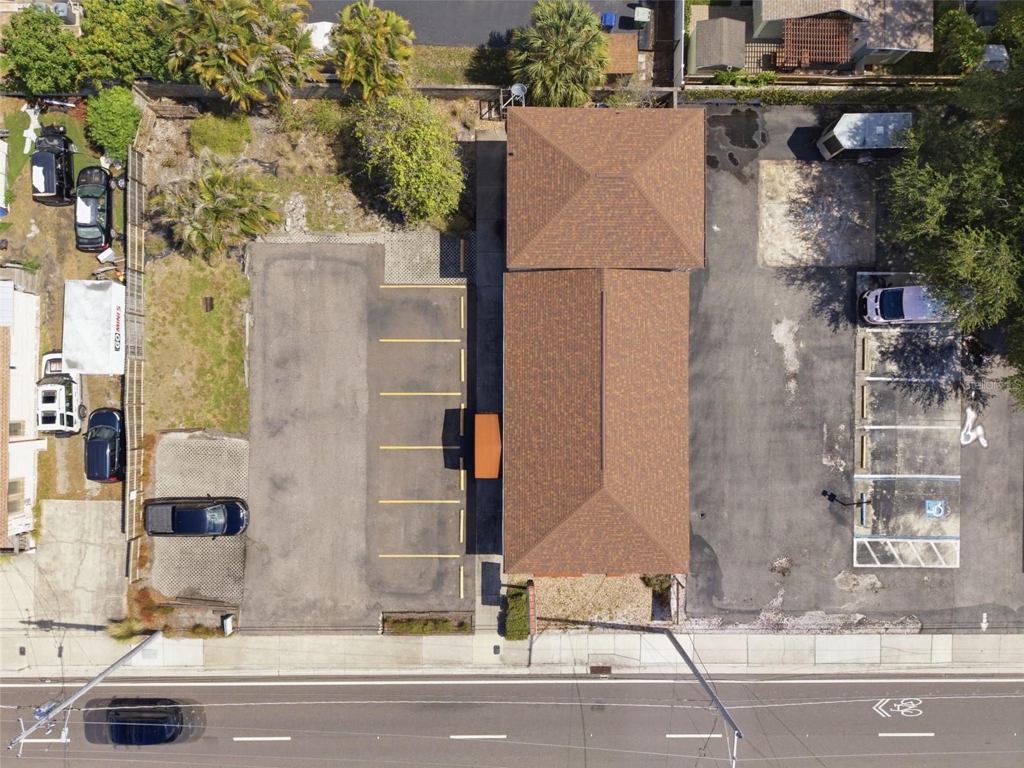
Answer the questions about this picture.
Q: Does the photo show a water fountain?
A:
No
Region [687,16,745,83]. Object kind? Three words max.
shed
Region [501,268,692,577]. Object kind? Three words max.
building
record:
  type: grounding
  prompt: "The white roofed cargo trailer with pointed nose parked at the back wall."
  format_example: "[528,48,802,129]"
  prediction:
[797,112,913,165]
